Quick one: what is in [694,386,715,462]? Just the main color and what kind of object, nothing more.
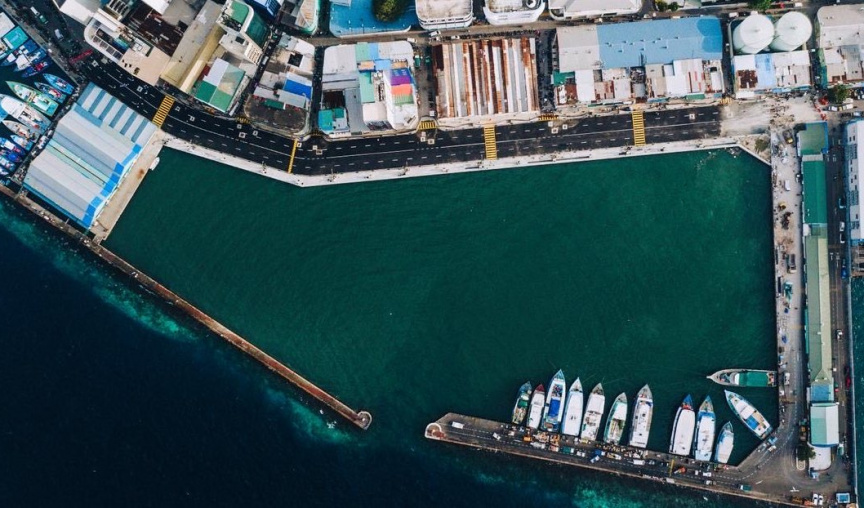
white boat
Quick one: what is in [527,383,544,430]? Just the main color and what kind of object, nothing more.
white boat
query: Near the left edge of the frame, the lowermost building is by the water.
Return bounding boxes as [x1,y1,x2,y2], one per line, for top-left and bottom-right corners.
[23,81,162,228]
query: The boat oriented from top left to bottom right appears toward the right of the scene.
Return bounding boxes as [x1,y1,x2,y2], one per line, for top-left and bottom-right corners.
[721,386,771,436]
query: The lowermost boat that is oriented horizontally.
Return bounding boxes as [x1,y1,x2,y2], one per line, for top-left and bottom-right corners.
[702,370,777,386]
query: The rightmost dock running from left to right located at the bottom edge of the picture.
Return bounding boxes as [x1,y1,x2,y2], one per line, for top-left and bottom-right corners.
[424,412,745,496]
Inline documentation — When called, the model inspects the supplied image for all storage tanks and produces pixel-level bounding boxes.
[768,10,813,53]
[732,14,775,55]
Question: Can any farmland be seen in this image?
No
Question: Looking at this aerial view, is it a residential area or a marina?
marina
